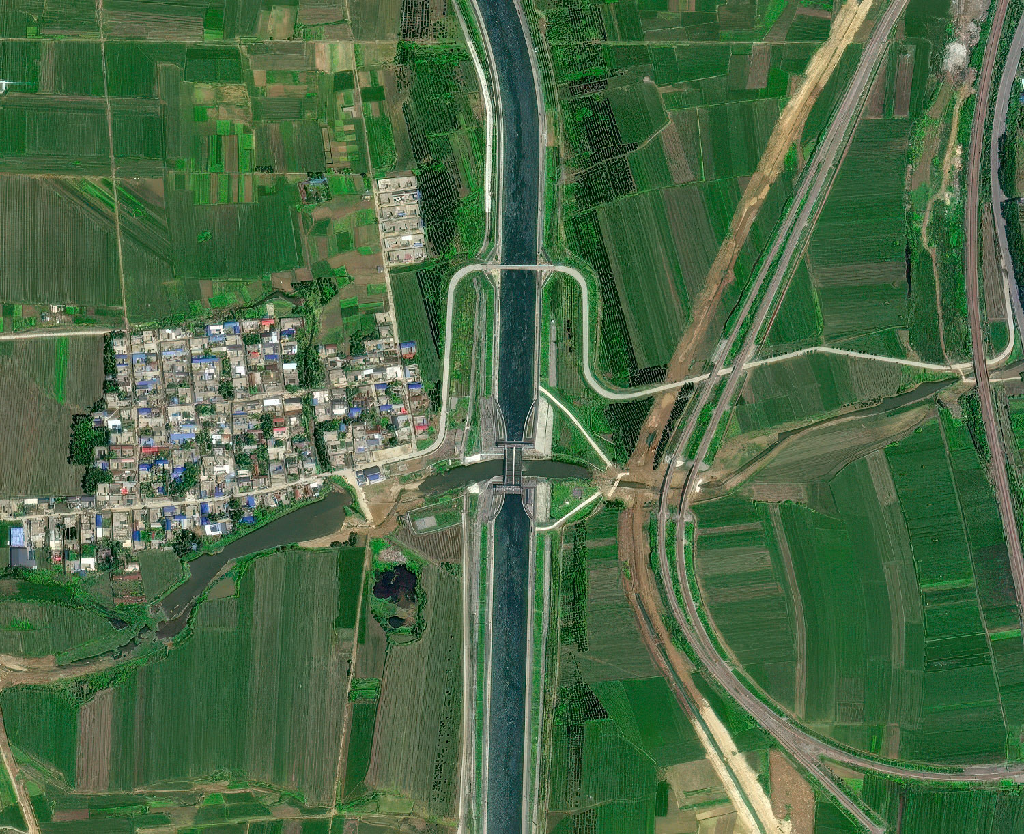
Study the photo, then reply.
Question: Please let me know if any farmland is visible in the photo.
Yes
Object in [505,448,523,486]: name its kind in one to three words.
bridge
